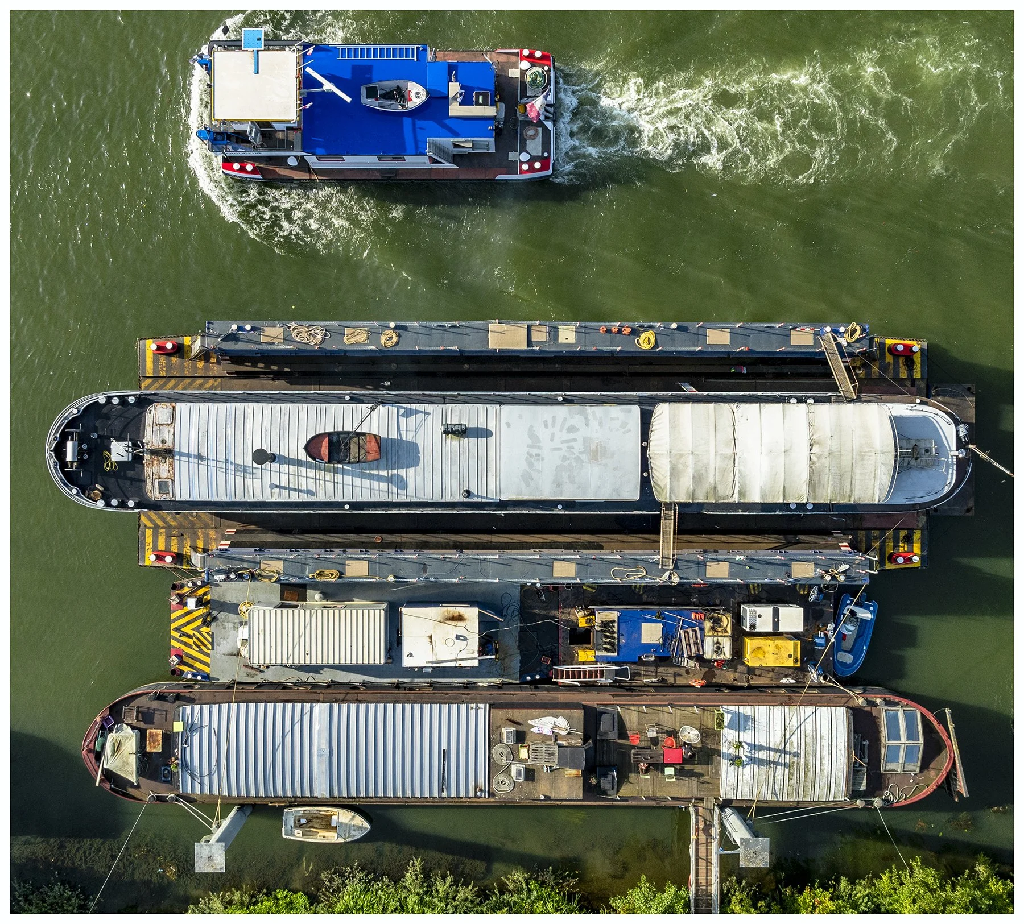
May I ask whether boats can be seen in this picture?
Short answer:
Yes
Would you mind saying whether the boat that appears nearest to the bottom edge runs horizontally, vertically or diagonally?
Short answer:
horizontally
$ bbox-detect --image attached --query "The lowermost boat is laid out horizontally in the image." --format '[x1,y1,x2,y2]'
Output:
[282,805,372,843]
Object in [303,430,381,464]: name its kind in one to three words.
boat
